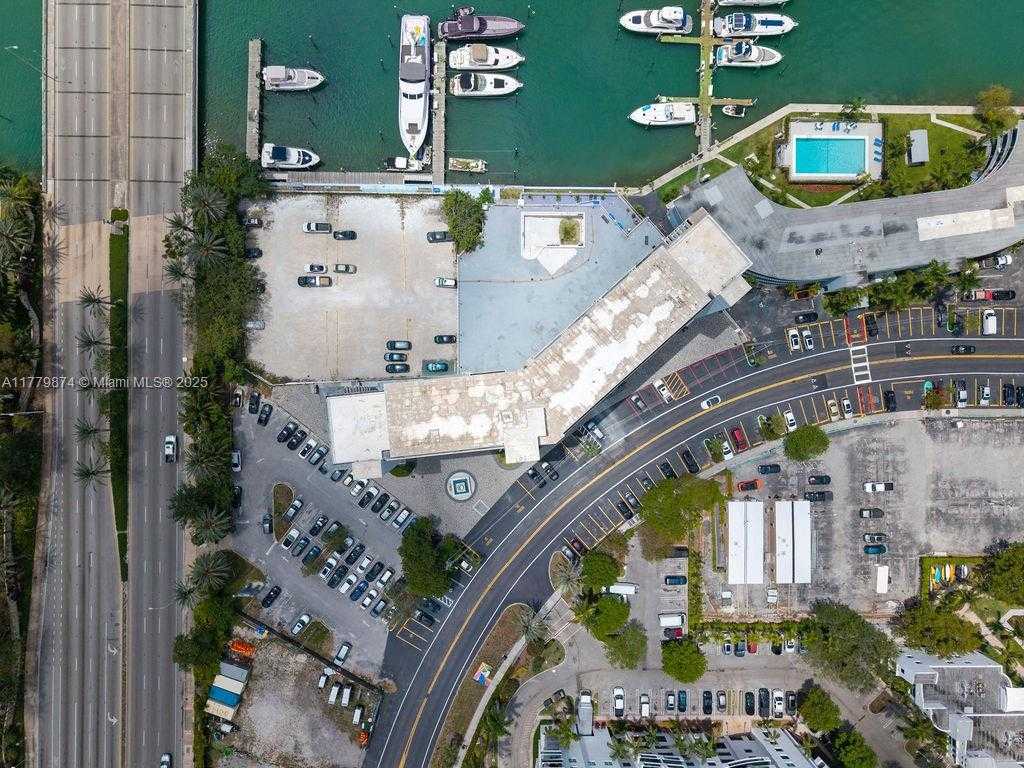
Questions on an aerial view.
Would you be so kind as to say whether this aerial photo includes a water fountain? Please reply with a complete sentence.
Yes, this view includes a water fountain.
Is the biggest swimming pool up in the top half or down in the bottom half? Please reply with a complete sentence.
The biggest swimming pool is in the top half of the image.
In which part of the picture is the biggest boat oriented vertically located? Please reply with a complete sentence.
The biggest boat oriented vertically sits in the top section of the image.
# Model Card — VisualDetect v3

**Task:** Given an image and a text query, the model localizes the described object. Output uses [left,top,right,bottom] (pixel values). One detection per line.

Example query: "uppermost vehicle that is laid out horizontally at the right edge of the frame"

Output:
[982,256,1013,269]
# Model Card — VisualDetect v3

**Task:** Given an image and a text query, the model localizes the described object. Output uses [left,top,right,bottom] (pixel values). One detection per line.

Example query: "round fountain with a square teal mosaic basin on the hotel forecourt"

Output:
[444,471,475,502]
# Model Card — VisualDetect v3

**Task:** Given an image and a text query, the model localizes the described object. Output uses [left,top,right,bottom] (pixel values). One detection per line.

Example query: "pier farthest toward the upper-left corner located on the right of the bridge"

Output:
[245,37,264,163]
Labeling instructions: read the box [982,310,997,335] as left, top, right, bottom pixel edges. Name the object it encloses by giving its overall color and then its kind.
white vehicle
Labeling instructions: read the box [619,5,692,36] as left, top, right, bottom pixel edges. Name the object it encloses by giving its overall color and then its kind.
white boat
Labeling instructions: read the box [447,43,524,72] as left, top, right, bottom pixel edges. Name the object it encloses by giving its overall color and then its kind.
white boat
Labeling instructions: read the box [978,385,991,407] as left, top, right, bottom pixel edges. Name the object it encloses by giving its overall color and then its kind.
white vehicle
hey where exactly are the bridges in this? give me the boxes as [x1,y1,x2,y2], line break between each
[41,0,200,180]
